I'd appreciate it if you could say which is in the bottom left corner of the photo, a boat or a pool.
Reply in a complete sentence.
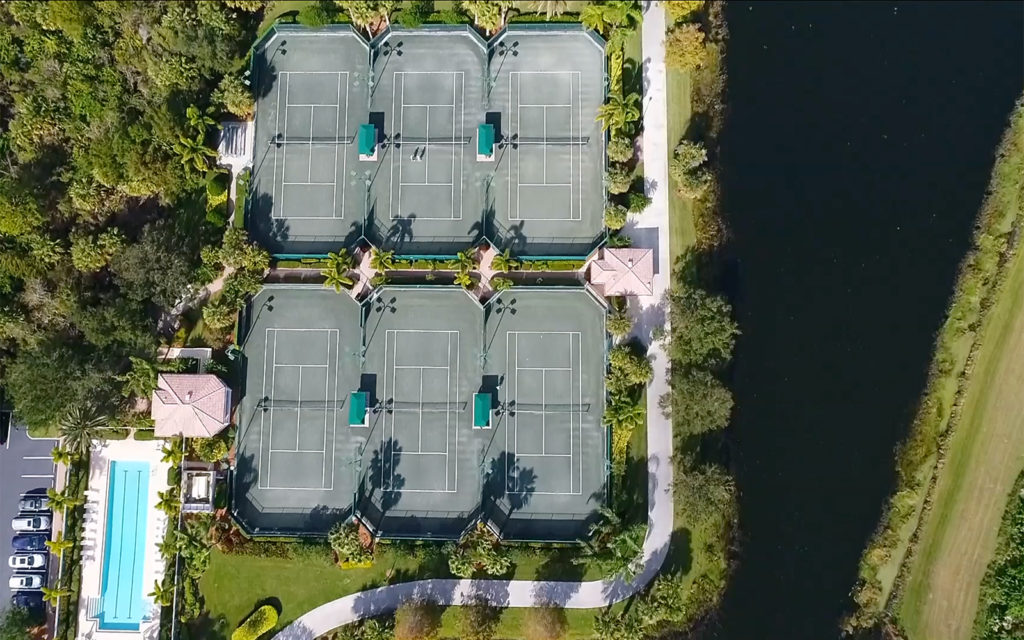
Looking in the bottom left corner of the photo, you will find a pool.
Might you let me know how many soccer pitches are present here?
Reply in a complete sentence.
The photo contains no soccer pitches.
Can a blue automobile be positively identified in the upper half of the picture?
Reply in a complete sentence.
No, no blue automobile appears in the upper half of the picture.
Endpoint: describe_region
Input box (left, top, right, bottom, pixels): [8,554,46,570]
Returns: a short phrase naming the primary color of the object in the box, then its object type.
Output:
white car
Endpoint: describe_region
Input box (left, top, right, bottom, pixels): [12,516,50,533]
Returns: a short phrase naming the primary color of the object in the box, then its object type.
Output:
white car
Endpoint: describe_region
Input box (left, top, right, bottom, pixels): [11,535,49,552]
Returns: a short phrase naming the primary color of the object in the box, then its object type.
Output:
blue car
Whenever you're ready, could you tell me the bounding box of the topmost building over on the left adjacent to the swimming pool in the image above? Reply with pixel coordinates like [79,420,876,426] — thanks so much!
[151,374,234,437]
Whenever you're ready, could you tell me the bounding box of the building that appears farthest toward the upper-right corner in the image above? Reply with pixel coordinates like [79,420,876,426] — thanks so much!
[590,248,654,296]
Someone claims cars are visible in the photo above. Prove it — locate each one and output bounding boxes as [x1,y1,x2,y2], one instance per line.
[8,592,45,606]
[11,535,49,552]
[8,554,46,570]
[12,516,50,533]
[16,498,51,514]
[7,574,43,590]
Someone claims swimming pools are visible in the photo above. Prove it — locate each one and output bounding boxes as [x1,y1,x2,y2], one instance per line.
[82,459,155,634]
